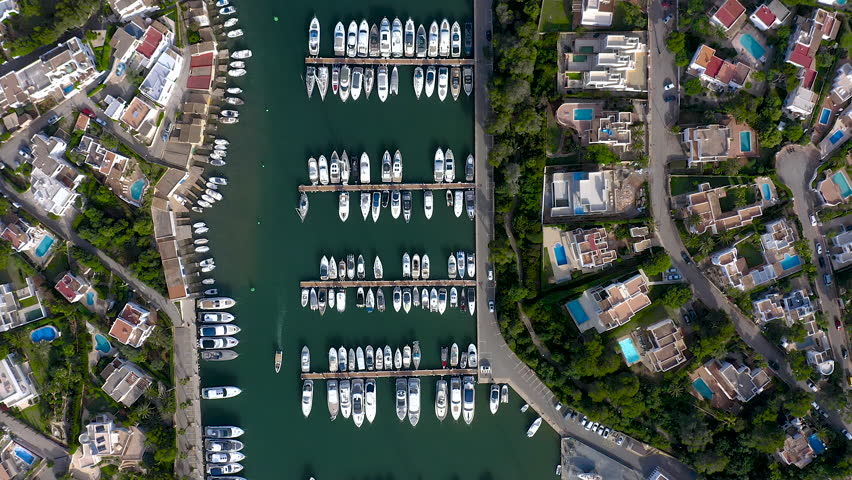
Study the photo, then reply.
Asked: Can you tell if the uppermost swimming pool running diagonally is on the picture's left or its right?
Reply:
right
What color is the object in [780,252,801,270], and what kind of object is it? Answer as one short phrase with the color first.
blue swimming pool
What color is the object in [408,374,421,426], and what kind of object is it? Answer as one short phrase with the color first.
white boat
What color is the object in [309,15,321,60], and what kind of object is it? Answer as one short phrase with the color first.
white boat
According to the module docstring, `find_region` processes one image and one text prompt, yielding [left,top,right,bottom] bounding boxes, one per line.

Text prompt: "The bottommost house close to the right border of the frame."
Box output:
[770,417,815,470]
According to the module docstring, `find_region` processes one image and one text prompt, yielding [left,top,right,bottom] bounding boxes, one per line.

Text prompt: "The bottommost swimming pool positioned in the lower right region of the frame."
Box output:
[808,433,826,455]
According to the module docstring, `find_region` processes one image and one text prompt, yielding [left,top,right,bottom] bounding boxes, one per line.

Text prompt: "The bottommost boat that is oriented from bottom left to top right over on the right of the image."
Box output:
[526,418,541,437]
